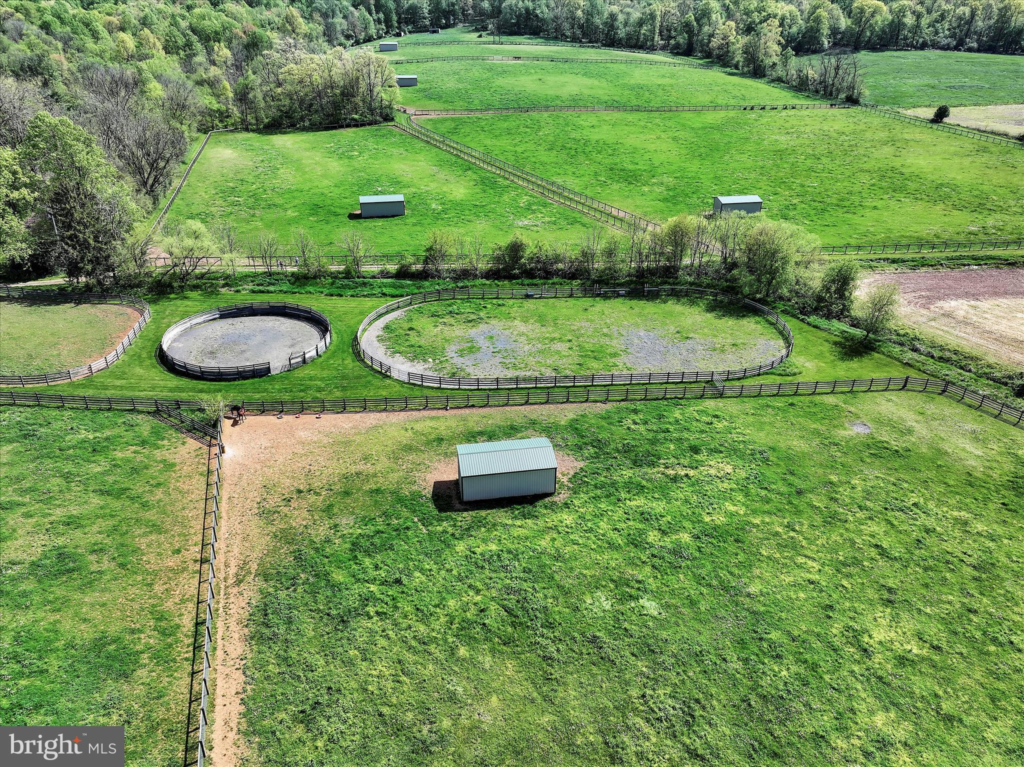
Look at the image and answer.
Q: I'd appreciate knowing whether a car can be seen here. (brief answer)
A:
No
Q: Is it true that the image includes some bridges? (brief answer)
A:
No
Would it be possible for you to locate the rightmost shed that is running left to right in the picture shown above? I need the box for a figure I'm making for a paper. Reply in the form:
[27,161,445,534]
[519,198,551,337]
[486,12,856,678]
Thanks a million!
[709,190,765,216]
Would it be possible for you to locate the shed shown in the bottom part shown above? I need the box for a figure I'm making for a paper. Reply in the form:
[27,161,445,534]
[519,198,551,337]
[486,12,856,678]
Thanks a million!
[456,441,558,502]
